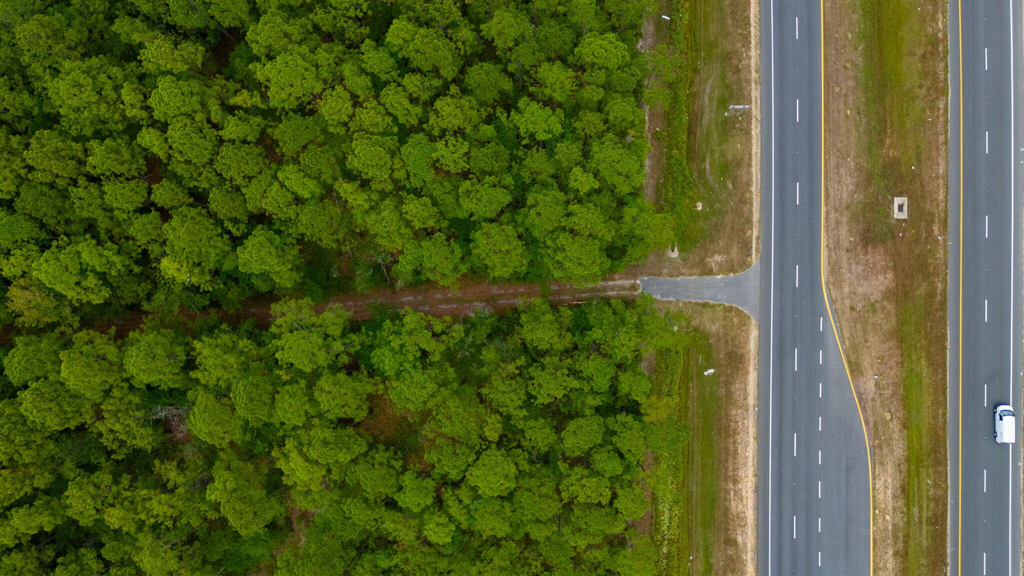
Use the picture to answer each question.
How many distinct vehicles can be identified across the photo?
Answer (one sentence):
Altogether the scene contains 1 vehicle.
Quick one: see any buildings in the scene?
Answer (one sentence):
No, the frame has no building in it.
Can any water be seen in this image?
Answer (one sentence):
No, no water is visible.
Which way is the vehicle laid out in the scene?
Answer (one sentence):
The vehicle is oriented from top to bottom.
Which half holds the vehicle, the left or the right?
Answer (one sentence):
The vehicle sits on the right side.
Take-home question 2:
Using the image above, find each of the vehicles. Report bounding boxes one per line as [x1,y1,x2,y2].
[993,403,1014,445]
